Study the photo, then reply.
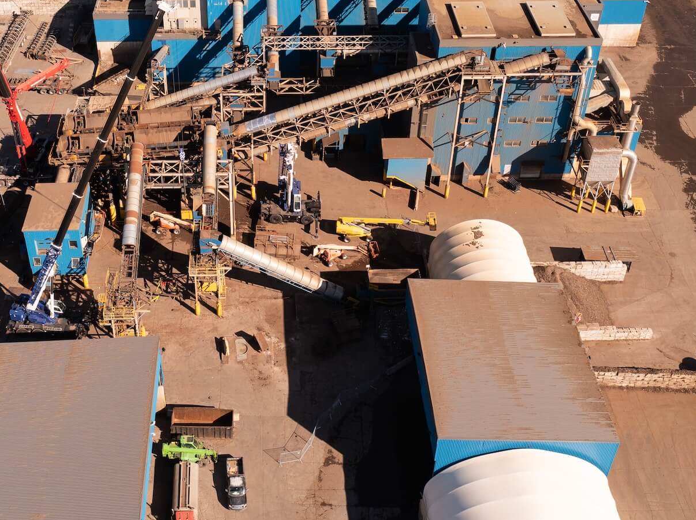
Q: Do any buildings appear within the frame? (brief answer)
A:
Yes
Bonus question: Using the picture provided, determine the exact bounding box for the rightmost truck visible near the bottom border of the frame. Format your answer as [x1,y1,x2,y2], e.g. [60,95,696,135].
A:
[223,449,248,508]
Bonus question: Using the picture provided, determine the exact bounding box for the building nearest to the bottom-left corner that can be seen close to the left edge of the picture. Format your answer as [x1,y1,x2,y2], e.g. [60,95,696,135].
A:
[0,342,171,520]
